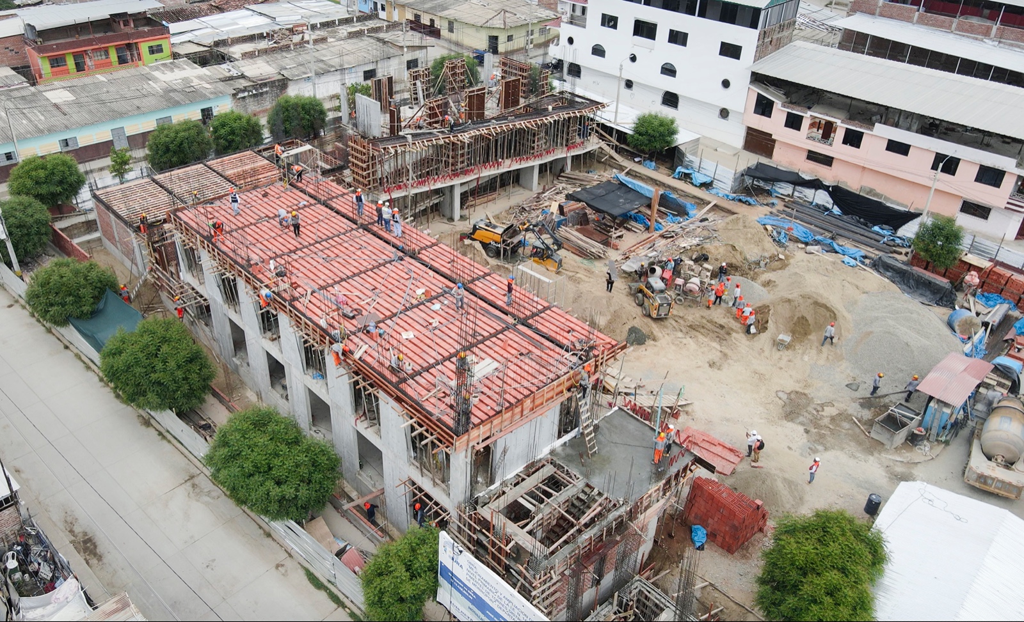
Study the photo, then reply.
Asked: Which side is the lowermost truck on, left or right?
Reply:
right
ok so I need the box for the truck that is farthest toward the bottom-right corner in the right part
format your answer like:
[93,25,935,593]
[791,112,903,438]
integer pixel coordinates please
[964,388,1024,493]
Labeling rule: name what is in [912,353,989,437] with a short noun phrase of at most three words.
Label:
shed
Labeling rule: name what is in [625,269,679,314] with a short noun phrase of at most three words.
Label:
work vehicle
